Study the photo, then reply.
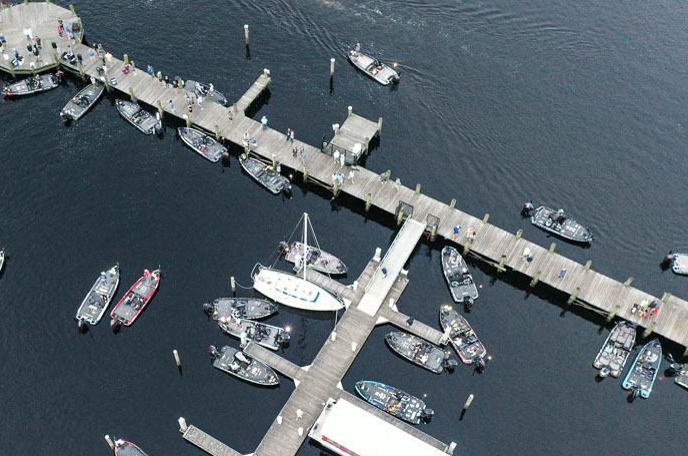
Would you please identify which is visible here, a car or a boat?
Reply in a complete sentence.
It is a boat that can be seen here.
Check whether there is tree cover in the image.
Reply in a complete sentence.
No, the picture contains no tree cover.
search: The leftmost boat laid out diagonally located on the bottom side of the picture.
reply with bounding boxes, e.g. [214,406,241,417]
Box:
[76,264,121,329]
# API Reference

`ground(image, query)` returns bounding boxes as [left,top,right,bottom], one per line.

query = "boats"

[671,363,688,388]
[348,55,400,89]
[442,243,481,306]
[112,442,144,456]
[1,75,61,98]
[76,264,121,329]
[179,77,228,106]
[238,155,292,196]
[113,99,160,136]
[624,336,661,399]
[441,303,490,365]
[62,83,106,121]
[385,335,454,374]
[211,344,280,388]
[354,382,436,426]
[202,299,277,320]
[666,254,688,276]
[218,319,292,349]
[529,204,593,244]
[176,126,229,164]
[252,213,345,312]
[110,269,161,328]
[595,321,632,377]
